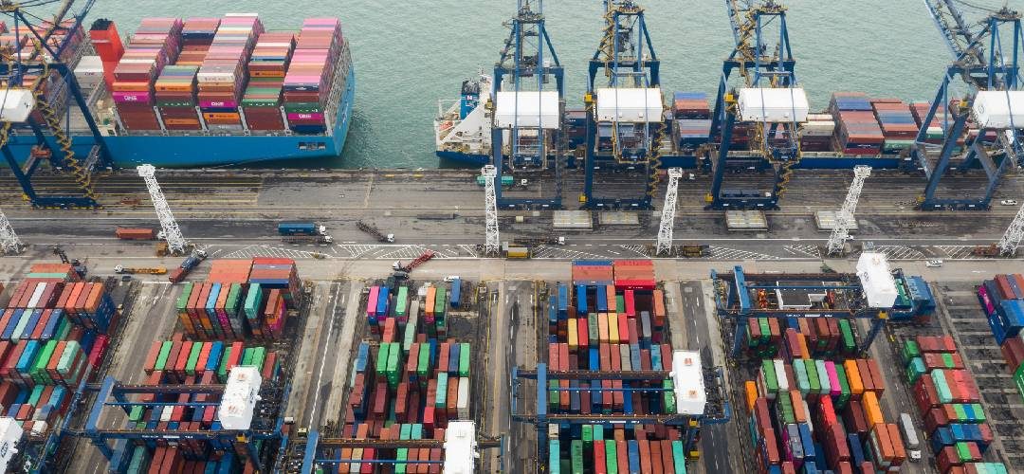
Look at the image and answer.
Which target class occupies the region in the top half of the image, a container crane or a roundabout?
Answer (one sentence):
It is a container crane that can be seen in the top half of the image.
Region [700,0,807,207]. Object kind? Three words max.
container crane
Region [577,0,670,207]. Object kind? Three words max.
container crane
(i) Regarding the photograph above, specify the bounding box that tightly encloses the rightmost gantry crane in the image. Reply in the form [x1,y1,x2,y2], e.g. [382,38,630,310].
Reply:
[905,0,1024,207]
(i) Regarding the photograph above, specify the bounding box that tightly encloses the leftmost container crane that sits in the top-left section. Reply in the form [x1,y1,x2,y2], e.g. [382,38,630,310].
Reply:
[0,0,119,207]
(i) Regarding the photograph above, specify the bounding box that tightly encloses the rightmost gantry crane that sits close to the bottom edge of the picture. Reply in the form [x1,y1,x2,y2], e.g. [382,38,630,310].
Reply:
[511,355,732,464]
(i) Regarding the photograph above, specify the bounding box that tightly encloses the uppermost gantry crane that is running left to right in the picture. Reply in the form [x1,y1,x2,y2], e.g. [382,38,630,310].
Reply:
[706,258,913,358]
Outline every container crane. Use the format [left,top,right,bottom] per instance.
[278,423,511,474]
[700,0,807,207]
[706,258,913,358]
[511,355,732,464]
[0,0,119,207]
[577,0,670,207]
[62,370,299,474]
[484,0,573,207]
[905,0,1024,207]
